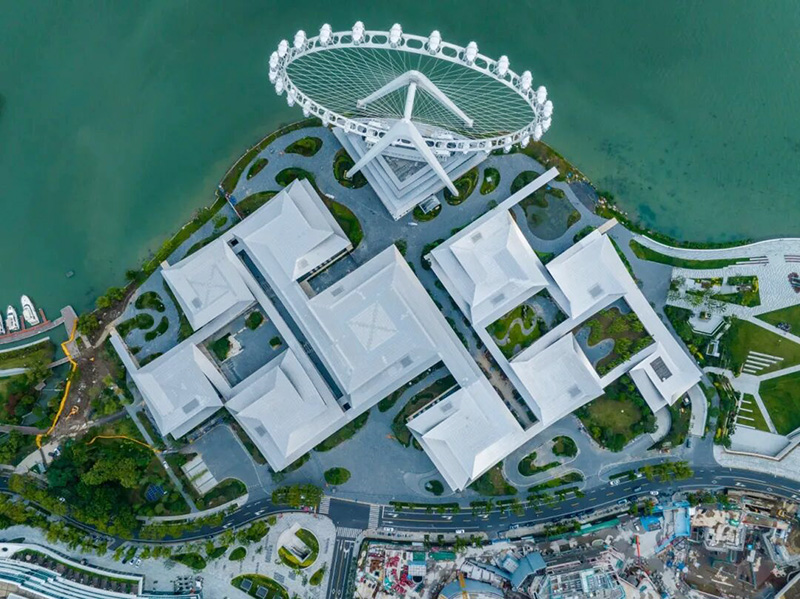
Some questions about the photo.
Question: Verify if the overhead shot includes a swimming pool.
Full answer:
Yes, this view includes a swimming pool.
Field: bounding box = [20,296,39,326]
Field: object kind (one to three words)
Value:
boat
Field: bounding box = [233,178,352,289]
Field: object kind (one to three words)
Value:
building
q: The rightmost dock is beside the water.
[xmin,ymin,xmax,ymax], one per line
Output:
[60,305,82,362]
